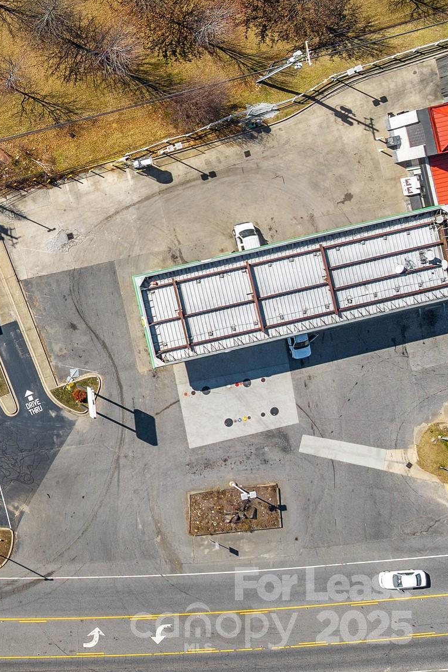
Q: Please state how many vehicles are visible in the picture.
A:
3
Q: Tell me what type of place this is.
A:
industrial area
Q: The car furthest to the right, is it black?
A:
No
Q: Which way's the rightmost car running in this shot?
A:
from left to right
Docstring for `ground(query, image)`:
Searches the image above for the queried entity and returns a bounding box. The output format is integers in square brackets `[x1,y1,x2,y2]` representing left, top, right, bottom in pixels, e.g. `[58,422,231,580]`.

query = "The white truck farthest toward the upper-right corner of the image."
[231,219,259,250]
